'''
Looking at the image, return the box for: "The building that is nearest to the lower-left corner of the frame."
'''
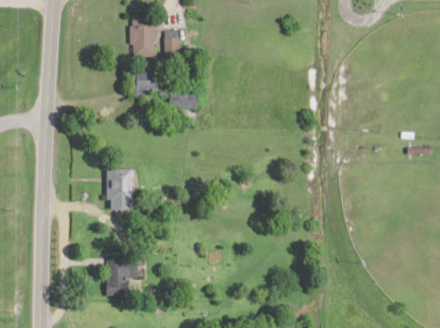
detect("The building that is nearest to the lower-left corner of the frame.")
[108,260,146,296]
